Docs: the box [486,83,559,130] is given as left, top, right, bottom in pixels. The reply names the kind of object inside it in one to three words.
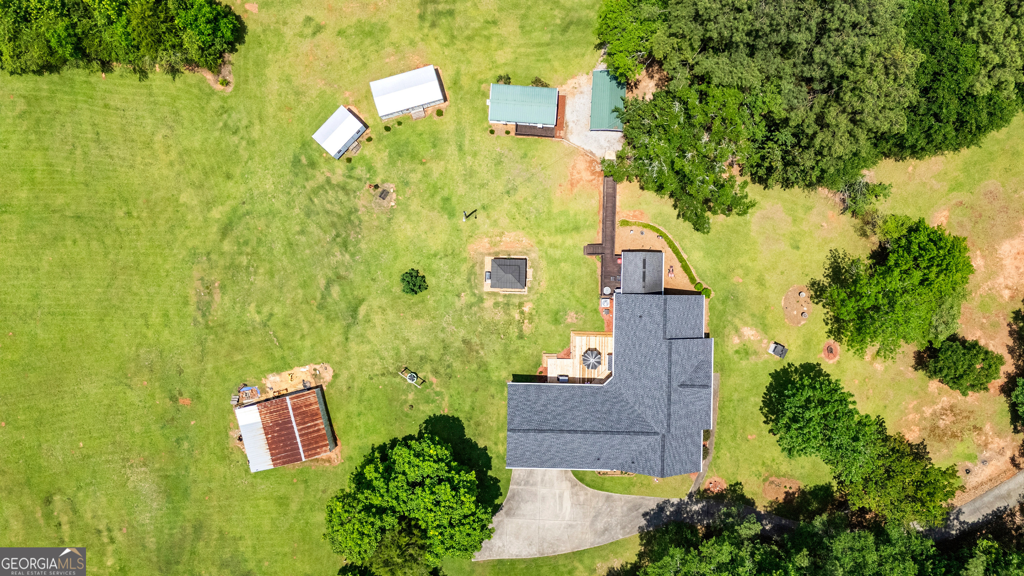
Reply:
house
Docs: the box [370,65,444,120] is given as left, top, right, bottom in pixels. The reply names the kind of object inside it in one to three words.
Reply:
shed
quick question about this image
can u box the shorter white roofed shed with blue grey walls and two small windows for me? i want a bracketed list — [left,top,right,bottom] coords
[312,105,366,159]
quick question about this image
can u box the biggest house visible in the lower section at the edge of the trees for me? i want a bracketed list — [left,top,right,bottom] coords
[505,252,715,478]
